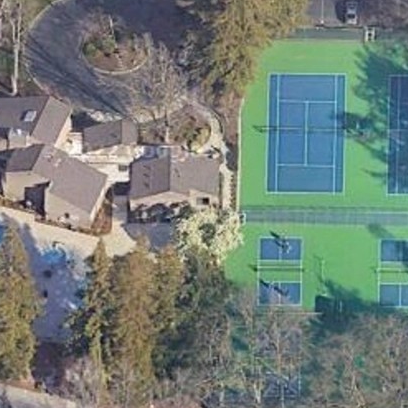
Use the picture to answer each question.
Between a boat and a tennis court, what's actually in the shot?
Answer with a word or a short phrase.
tennis court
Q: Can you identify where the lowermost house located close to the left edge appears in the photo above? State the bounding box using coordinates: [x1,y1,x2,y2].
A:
[5,144,107,224]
